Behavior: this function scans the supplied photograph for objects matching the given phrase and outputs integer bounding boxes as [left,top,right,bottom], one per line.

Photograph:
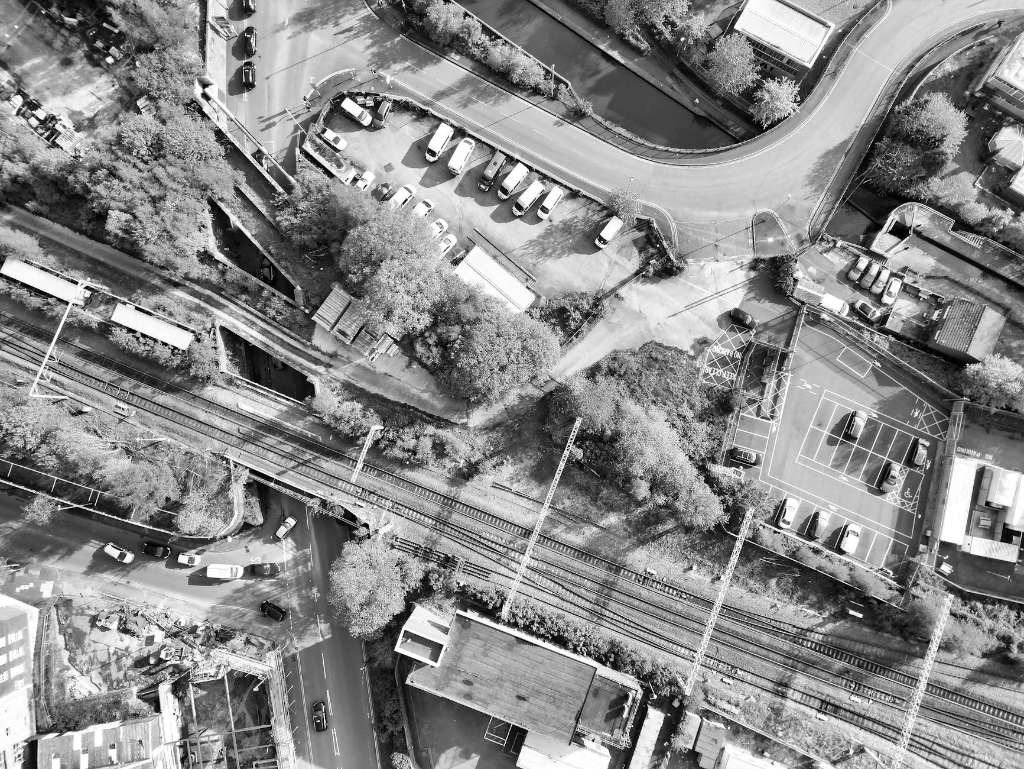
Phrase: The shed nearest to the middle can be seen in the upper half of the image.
[455,246,535,306]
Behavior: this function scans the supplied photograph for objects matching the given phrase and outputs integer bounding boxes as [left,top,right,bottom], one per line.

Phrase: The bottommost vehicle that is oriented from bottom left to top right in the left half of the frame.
[273,514,298,541]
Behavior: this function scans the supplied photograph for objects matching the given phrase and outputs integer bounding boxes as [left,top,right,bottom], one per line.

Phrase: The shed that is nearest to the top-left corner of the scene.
[0,257,94,304]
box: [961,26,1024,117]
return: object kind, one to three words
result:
building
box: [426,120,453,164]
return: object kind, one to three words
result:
vehicle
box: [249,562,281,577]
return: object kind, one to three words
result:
car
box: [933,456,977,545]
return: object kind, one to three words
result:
shed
